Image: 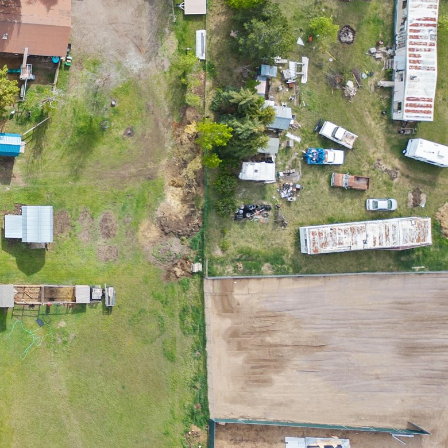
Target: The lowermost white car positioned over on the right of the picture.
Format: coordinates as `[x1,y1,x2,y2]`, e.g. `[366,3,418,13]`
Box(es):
[364,196,397,213]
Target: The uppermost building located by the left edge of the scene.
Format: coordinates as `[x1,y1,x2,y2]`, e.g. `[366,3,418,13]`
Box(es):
[0,0,71,59]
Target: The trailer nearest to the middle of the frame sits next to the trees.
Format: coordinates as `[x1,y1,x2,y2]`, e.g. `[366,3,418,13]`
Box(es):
[233,164,273,183]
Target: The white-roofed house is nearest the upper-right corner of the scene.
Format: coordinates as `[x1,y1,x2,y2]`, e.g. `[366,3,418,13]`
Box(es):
[370,0,438,136]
